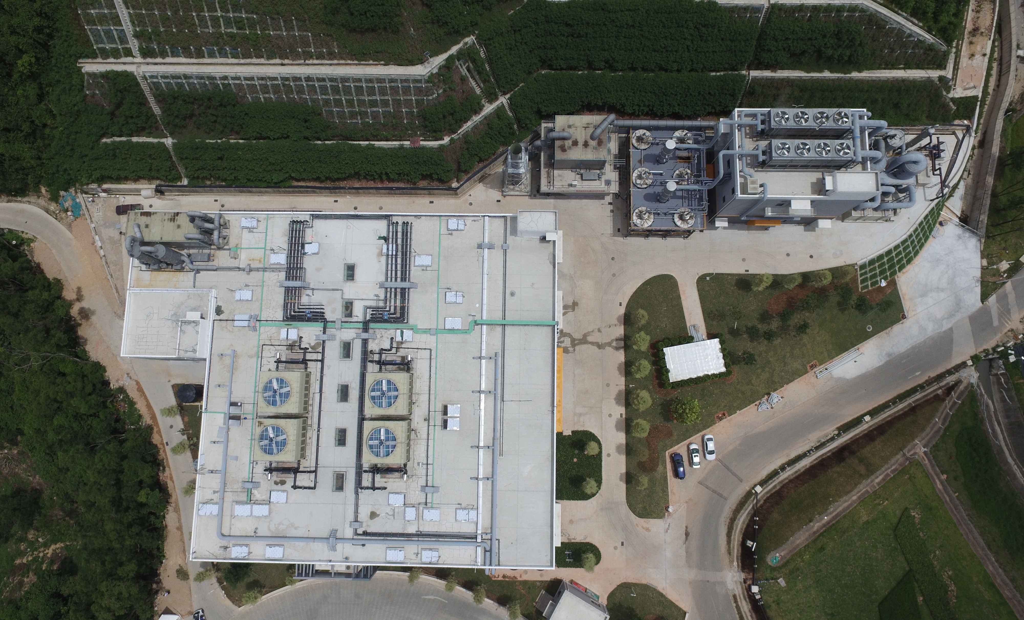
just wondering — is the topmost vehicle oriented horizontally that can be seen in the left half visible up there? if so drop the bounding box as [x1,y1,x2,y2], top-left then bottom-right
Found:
[113,202,142,215]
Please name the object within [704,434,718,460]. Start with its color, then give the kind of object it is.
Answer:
white car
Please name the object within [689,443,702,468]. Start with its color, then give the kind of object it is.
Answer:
white vehicle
